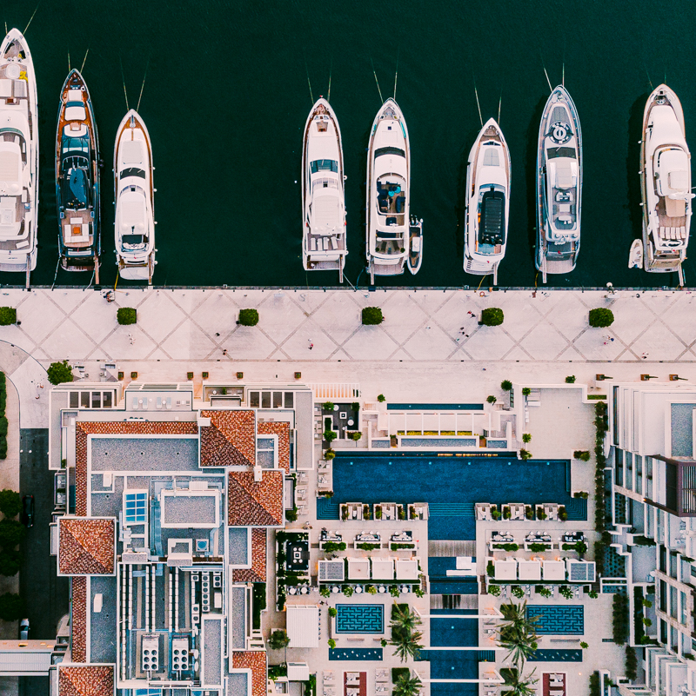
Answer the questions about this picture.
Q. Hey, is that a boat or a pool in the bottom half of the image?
pool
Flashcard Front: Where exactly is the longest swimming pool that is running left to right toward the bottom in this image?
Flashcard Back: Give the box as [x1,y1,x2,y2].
[315,458,588,540]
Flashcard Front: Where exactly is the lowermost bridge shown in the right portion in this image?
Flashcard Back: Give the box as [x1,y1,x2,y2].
[430,594,478,609]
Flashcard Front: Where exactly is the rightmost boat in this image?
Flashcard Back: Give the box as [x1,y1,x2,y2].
[638,70,696,289]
